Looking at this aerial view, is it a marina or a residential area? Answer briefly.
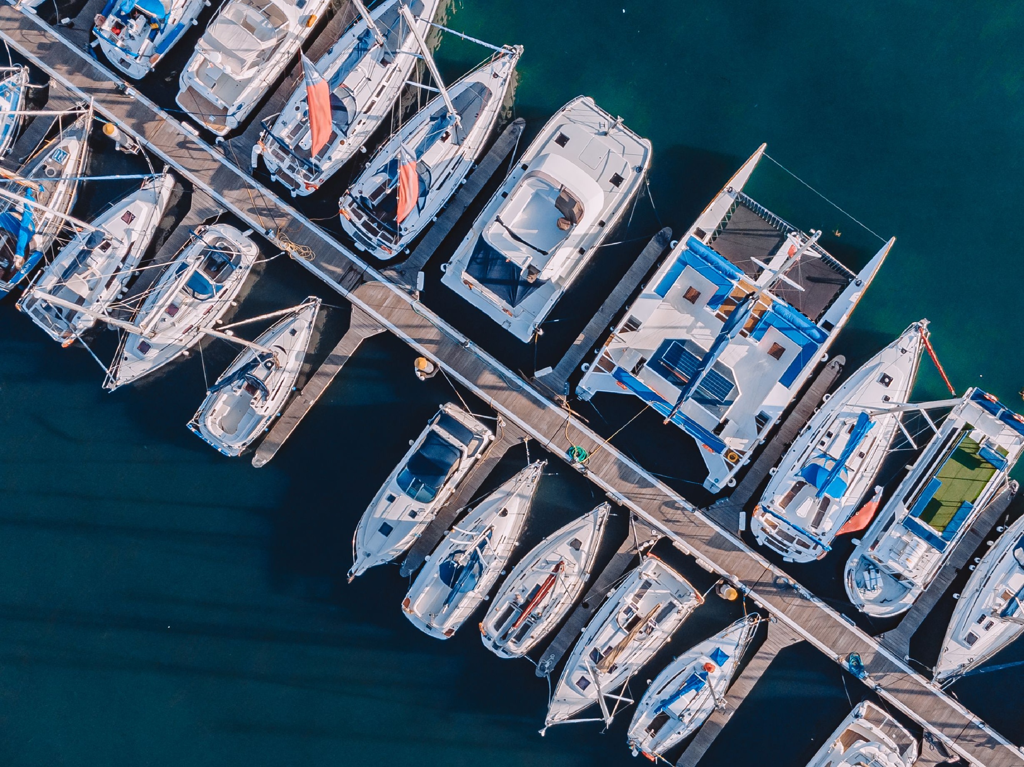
marina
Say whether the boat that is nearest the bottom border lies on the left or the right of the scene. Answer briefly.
right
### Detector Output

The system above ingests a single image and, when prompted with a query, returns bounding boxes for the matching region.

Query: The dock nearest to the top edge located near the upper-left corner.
[48,0,105,55]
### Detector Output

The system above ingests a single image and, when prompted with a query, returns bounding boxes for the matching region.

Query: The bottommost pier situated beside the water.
[912,728,962,767]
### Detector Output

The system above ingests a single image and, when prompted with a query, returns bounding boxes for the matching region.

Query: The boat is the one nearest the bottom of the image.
[798,699,918,767]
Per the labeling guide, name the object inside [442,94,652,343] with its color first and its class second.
white boat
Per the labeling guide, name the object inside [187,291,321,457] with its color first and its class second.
white boat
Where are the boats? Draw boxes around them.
[0,60,29,161]
[339,0,524,263]
[846,387,1024,618]
[0,165,173,349]
[442,94,652,343]
[402,458,550,641]
[475,500,612,659]
[347,403,493,582]
[26,222,263,393]
[187,291,321,457]
[539,551,704,737]
[628,614,766,762]
[176,0,341,138]
[92,0,213,83]
[930,506,1024,688]
[575,144,896,494]
[252,0,456,199]
[751,314,976,563]
[798,699,918,767]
